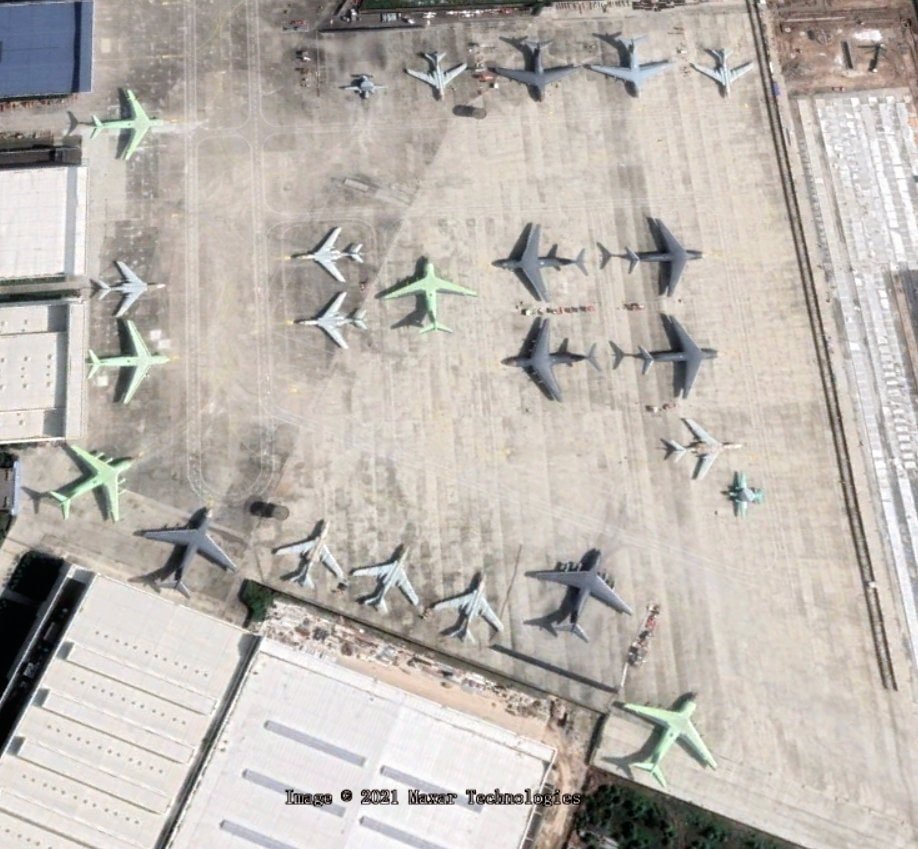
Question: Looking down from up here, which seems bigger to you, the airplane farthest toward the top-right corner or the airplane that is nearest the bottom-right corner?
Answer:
the airplane that is nearest the bottom-right corner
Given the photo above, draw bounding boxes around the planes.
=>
[433,574,504,645]
[90,90,167,159]
[693,48,753,98]
[671,419,742,480]
[383,260,477,334]
[299,292,368,348]
[85,320,170,403]
[498,224,590,301]
[637,316,721,398]
[275,522,343,589]
[351,547,418,614]
[534,554,632,644]
[624,698,717,790]
[495,38,580,99]
[143,512,236,600]
[730,473,766,518]
[508,318,602,401]
[344,74,388,97]
[407,51,466,100]
[95,262,164,316]
[590,34,676,94]
[624,219,705,296]
[296,228,364,282]
[48,446,134,523]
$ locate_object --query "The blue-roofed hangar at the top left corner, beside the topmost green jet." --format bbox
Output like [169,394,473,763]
[0,0,93,99]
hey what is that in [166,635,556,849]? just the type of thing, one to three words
building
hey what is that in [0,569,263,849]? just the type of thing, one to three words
building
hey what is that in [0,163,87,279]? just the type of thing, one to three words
hangar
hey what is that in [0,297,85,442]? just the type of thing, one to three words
hangar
